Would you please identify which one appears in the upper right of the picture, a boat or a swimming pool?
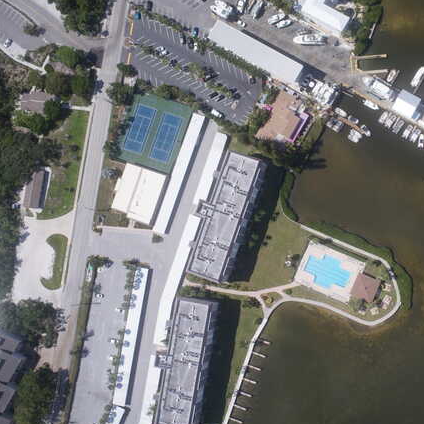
boat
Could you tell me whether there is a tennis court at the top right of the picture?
No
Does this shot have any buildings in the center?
Yes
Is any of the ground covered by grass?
Yes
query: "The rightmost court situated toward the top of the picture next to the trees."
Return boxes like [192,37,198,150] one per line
[140,100,193,174]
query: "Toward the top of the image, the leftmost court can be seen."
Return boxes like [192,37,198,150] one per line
[111,94,161,166]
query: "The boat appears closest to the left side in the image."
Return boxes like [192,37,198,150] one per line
[207,0,237,21]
